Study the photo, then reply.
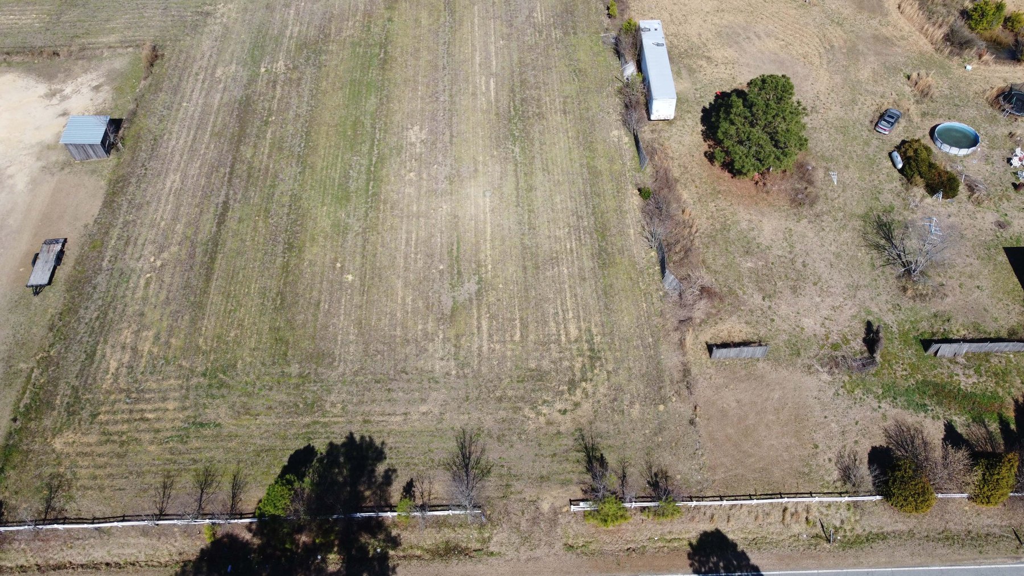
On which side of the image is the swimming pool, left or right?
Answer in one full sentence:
The swimming pool appears in the right half of the scene.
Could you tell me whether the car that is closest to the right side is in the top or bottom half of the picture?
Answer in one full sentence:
It is in the top half that the car that is closest to the right side appears.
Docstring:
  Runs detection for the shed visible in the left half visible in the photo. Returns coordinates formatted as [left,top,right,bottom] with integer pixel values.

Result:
[60,114,117,162]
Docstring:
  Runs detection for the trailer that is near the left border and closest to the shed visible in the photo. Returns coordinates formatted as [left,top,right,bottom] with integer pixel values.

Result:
[25,237,67,299]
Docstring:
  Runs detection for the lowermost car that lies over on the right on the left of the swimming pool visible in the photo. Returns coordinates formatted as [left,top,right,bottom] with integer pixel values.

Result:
[873,109,901,138]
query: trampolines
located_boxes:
[1003,77,1024,119]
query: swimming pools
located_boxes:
[931,124,977,160]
